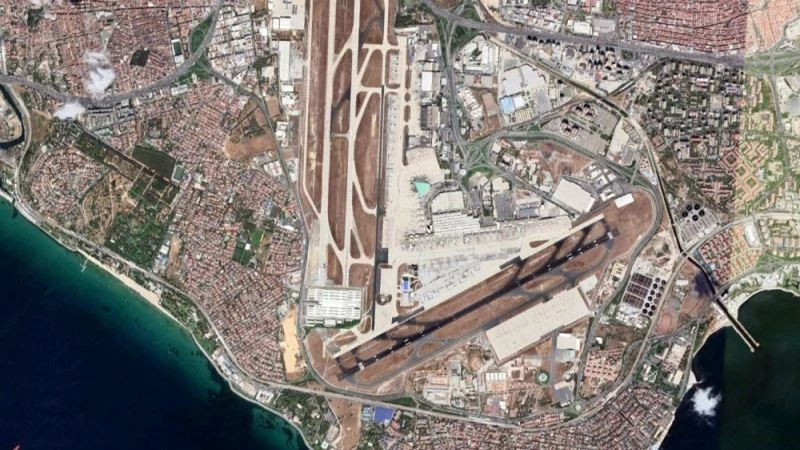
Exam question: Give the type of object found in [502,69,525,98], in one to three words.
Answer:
building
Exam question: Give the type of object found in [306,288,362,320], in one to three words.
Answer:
hangar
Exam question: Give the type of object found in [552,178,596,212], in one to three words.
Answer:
building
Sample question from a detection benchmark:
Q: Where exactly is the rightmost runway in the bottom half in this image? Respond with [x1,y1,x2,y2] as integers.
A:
[339,229,617,377]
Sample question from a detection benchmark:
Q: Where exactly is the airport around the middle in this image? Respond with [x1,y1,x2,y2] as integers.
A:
[270,0,653,388]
